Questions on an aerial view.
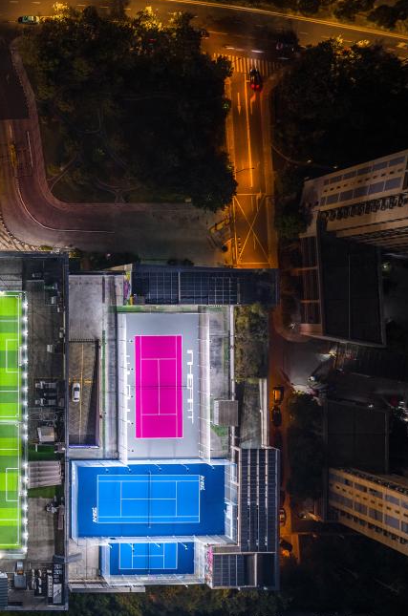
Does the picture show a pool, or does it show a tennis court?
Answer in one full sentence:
There is a tennis court in the scene.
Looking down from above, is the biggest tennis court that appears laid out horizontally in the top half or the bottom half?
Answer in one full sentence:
The biggest tennis court that appears laid out horizontally is in the bottom half of the image.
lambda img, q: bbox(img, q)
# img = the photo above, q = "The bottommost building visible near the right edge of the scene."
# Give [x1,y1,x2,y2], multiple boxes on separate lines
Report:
[329,472,408,549]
